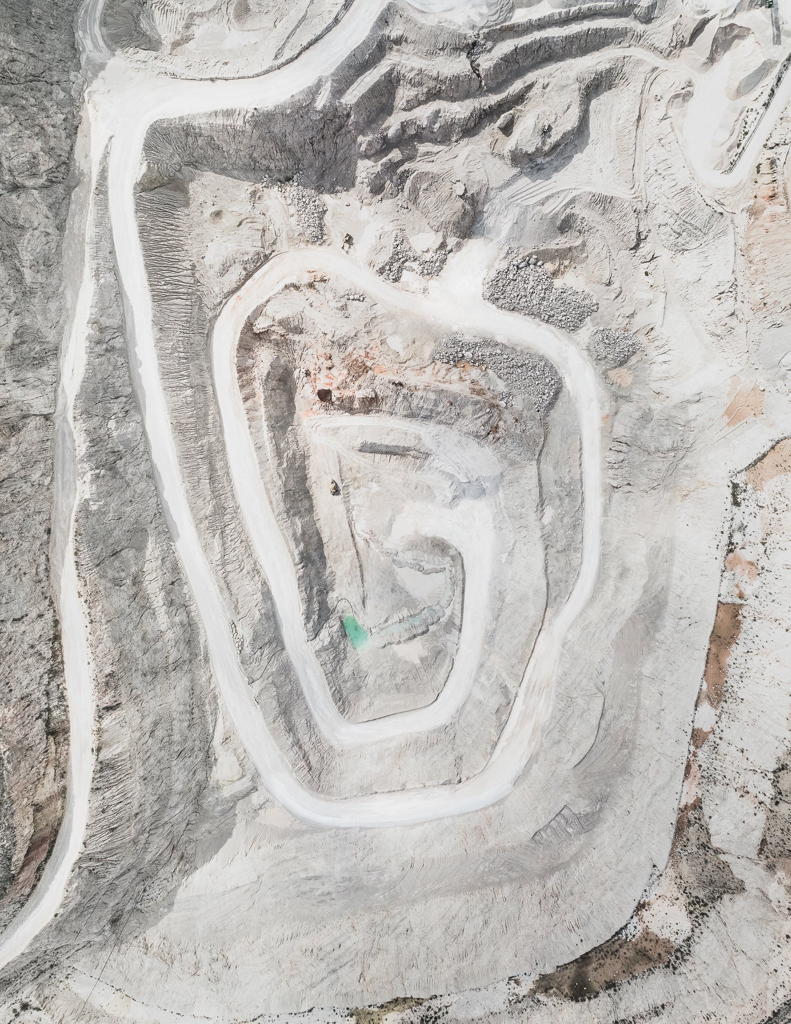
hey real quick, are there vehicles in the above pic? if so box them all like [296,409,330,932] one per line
[330,479,339,492]
[341,231,351,251]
